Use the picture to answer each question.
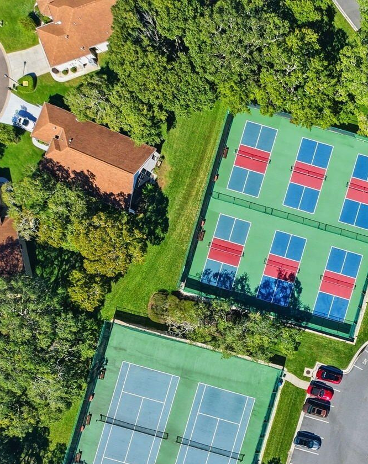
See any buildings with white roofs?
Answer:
No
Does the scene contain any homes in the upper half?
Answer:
Yes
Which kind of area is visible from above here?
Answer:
sports ground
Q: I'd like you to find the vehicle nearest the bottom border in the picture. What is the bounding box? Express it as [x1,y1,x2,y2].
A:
[294,434,322,450]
